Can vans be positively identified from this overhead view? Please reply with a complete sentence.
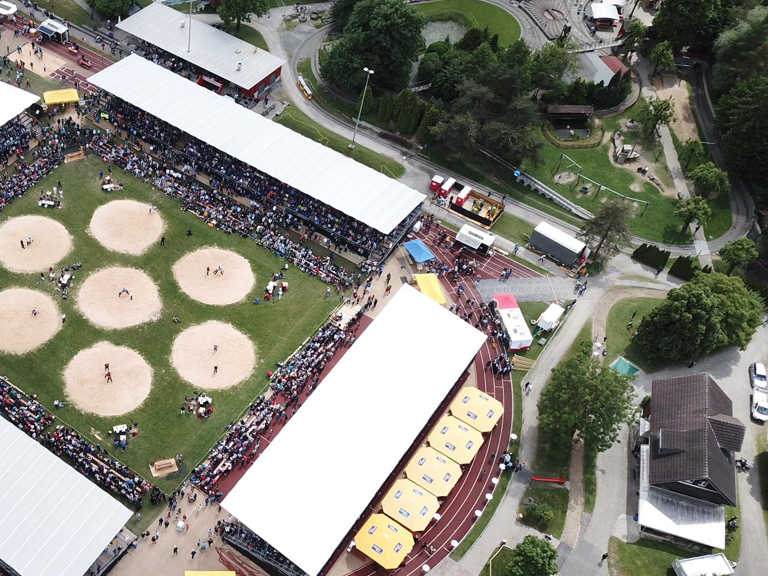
Yes, there's a van here.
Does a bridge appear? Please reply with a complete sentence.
Yes, a bridge is visible in the scene.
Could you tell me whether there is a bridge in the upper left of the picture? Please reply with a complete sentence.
No, no bridge can be made out in the upper left of the picture.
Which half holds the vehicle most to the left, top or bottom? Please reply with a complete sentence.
You can find the vehicle most to the left in the top half.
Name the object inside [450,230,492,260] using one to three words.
van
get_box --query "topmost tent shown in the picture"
[44,92,79,110]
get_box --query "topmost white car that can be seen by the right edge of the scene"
[750,361,768,386]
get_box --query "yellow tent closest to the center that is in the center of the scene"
[412,275,445,307]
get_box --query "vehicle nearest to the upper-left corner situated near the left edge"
[36,23,66,44]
